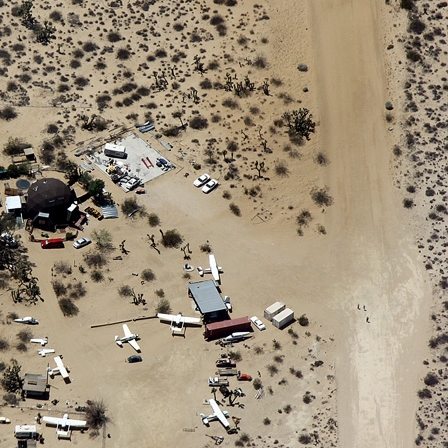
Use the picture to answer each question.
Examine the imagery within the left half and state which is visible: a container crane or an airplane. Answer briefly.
airplane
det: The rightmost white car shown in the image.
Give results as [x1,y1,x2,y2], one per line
[249,316,267,330]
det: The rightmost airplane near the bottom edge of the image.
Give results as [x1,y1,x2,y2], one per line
[198,398,228,427]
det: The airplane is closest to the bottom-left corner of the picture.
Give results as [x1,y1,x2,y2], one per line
[42,415,86,440]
